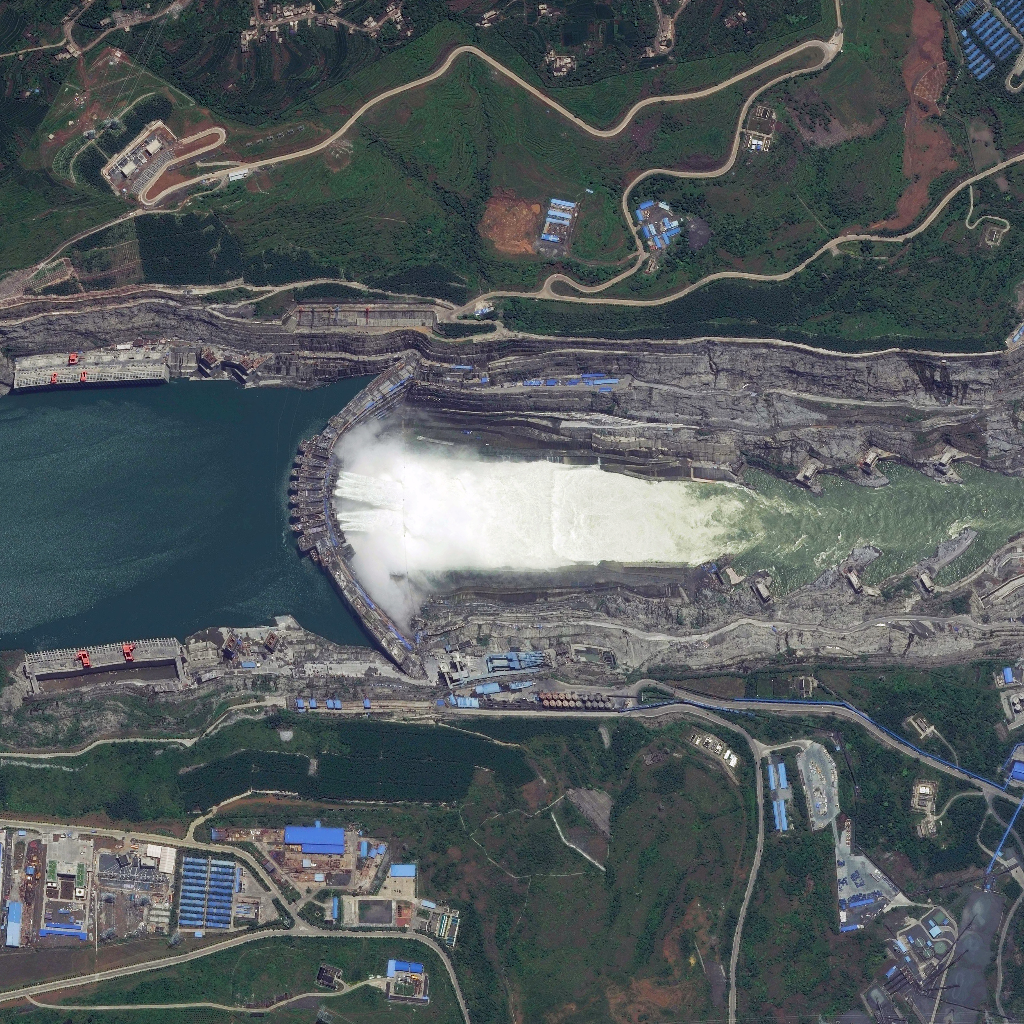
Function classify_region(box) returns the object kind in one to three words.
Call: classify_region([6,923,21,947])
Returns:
building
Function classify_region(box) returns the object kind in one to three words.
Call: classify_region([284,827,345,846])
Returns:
building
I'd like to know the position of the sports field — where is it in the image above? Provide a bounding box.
[359,900,392,923]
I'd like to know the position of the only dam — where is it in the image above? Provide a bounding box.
[289,353,429,680]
